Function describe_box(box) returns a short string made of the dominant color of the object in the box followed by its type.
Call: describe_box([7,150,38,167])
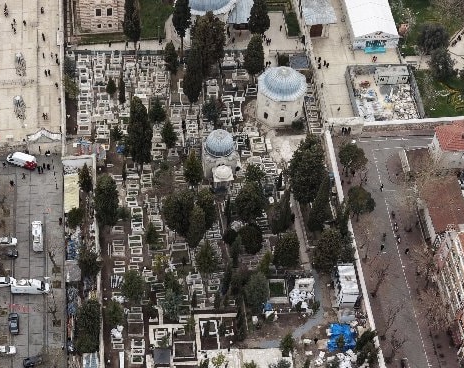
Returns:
white vehicle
